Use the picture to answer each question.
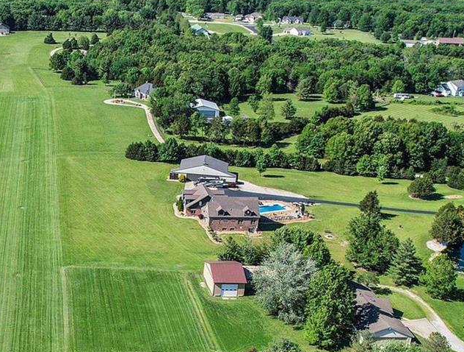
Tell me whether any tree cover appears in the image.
Yes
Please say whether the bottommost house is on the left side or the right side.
right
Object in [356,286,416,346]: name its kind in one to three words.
house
